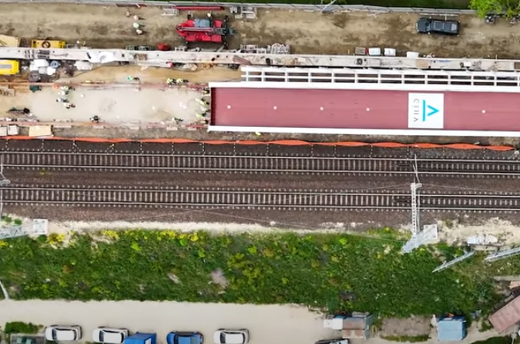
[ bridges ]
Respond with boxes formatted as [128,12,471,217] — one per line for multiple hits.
[207,67,520,136]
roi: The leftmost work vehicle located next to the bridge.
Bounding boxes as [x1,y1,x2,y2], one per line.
[177,10,240,47]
